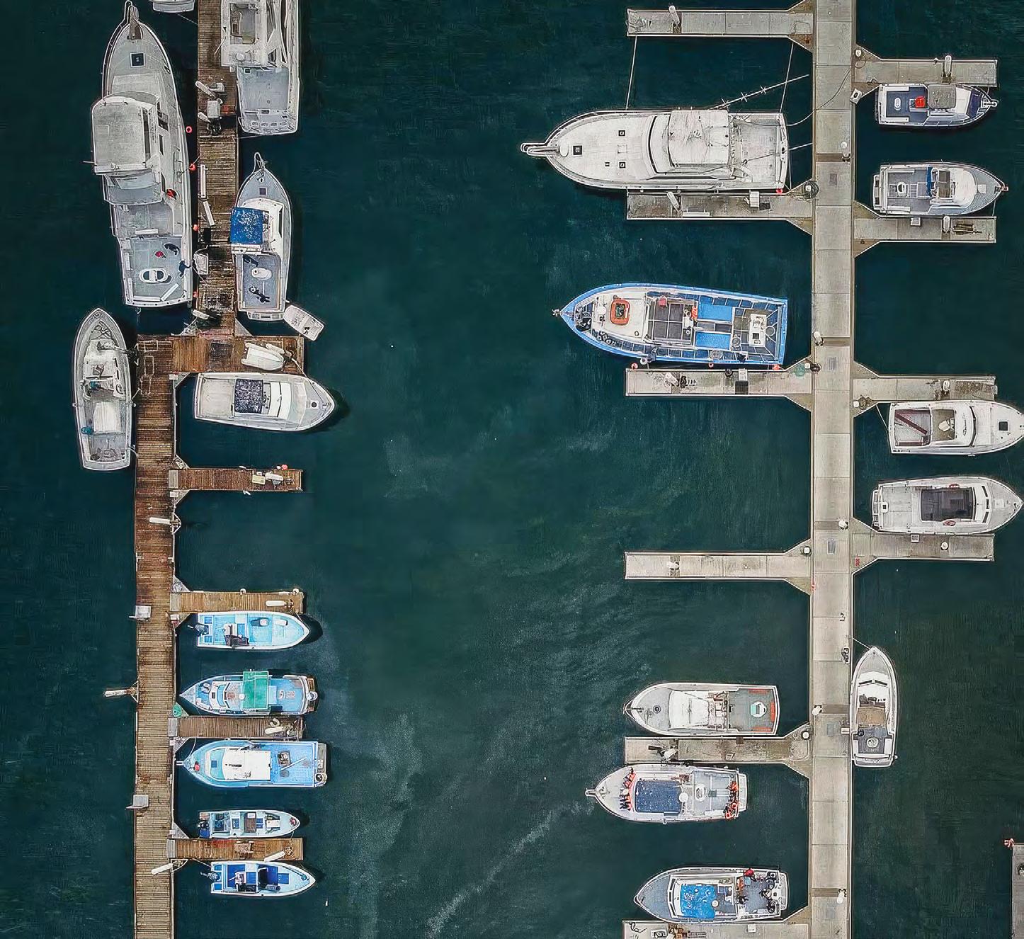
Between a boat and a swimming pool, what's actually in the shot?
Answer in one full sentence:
Of the two, only a boat appears.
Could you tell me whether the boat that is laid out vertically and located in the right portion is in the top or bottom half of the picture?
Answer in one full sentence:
Seen from above, the boat that is laid out vertically and located in the right portion lies in the bottom half of the view.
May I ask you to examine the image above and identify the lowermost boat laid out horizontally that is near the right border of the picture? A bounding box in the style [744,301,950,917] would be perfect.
[871,476,1023,535]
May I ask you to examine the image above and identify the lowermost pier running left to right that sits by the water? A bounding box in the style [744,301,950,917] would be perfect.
[622,905,809,939]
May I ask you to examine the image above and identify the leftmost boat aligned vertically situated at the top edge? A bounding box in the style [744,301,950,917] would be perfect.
[83,1,197,312]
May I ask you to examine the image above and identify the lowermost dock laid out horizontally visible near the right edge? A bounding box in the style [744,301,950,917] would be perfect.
[853,517,994,576]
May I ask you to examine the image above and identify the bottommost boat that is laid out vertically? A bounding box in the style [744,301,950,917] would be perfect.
[849,645,898,767]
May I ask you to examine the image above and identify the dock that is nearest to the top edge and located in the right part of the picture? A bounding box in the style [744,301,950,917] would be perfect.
[627,0,813,54]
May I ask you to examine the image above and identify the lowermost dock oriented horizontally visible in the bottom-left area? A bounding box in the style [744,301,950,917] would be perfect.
[169,823,305,875]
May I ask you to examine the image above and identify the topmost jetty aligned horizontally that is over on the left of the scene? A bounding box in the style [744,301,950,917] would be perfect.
[169,455,305,506]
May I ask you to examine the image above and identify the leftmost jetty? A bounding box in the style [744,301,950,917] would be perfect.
[135,372,177,939]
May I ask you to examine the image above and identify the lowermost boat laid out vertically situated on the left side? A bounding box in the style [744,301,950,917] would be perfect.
[71,307,136,472]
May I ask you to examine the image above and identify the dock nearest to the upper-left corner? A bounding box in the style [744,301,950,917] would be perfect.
[197,0,241,336]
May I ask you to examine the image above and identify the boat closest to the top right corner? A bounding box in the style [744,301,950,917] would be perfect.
[875,83,999,127]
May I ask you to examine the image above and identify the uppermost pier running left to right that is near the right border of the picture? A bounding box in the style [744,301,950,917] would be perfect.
[855,43,997,105]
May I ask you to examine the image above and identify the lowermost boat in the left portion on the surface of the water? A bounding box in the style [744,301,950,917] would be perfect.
[196,860,317,897]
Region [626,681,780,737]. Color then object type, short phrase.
white boat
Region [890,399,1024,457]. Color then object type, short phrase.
white boat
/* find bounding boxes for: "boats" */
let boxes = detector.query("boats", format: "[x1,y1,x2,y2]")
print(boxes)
[230,153,293,321]
[875,83,999,127]
[196,860,317,897]
[176,739,329,788]
[190,610,311,650]
[552,282,789,364]
[586,762,747,825]
[626,681,780,737]
[849,645,898,767]
[890,399,1024,457]
[874,159,1009,217]
[871,476,1023,535]
[521,74,809,192]
[83,1,197,312]
[71,307,136,472]
[194,373,337,431]
[214,0,305,140]
[151,0,198,13]
[199,809,301,839]
[284,305,326,341]
[634,866,787,924]
[179,669,326,716]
